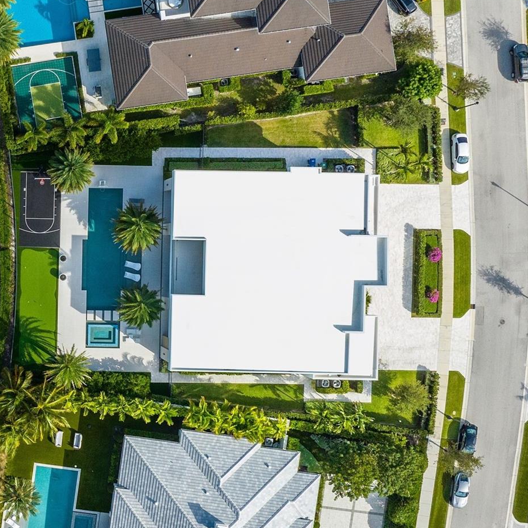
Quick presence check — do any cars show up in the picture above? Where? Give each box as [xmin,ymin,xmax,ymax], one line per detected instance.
[395,0,420,15]
[448,470,469,509]
[510,41,528,81]
[458,420,478,458]
[449,133,468,172]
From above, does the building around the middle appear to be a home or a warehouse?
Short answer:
home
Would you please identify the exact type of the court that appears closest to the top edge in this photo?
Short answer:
basketball court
